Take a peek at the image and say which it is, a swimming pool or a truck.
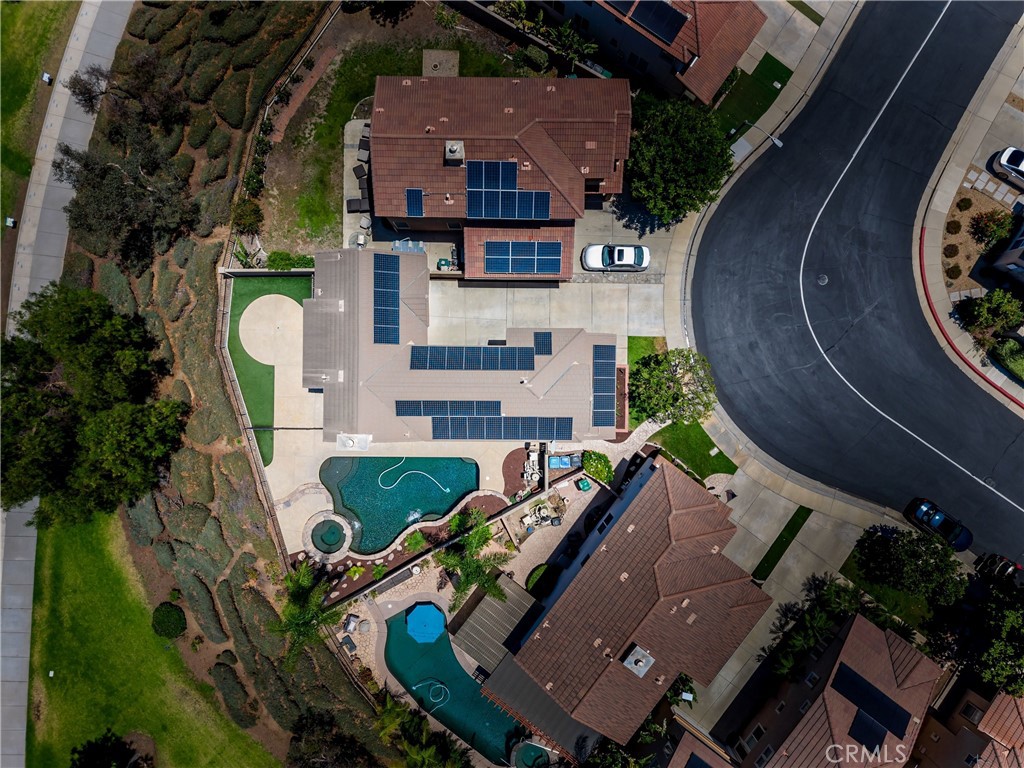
swimming pool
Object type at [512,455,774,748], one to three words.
house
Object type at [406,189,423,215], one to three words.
solar panel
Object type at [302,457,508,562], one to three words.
swimming pool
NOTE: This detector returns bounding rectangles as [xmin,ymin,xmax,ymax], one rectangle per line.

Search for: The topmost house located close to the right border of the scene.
[992,226,1024,290]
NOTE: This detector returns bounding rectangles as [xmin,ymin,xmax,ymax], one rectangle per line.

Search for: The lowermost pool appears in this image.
[374,589,555,768]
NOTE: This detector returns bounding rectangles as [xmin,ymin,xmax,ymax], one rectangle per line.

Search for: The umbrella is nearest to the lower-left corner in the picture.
[407,600,445,642]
